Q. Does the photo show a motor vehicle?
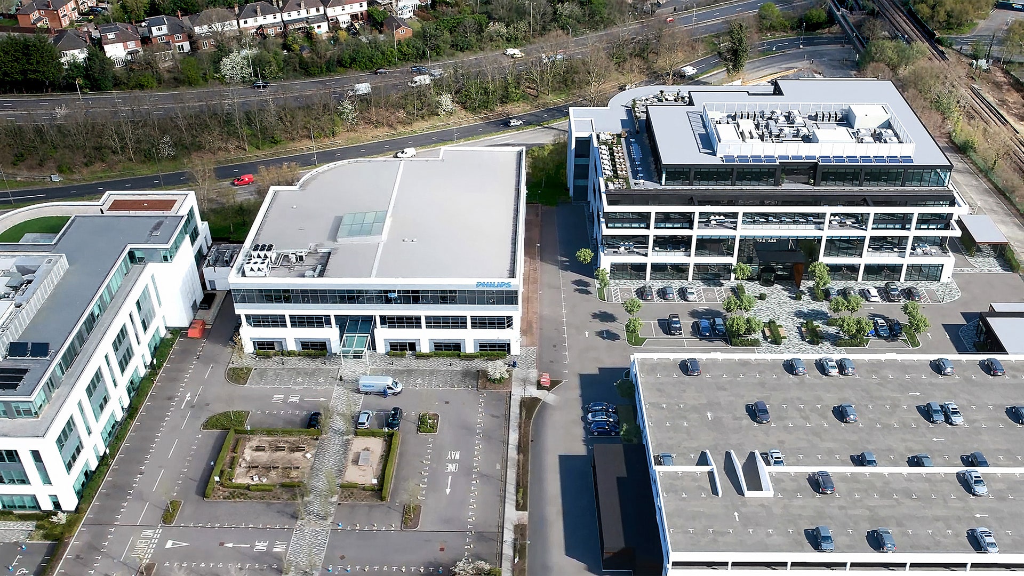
Yes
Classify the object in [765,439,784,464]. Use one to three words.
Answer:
car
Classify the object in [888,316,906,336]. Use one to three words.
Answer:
car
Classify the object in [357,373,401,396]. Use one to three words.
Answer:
vehicle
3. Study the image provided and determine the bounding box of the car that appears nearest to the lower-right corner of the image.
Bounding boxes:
[974,524,1000,554]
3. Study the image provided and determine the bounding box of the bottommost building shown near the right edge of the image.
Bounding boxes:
[973,311,1024,355]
